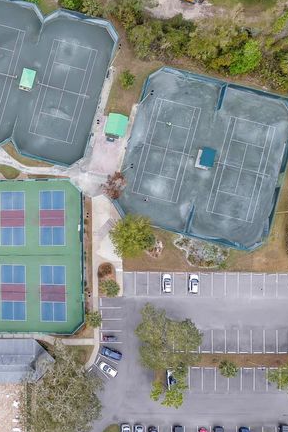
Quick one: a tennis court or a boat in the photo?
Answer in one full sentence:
Looking from above, you can make out a tennis court.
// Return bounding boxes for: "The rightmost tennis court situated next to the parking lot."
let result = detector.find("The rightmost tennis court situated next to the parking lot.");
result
[180,88,288,249]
